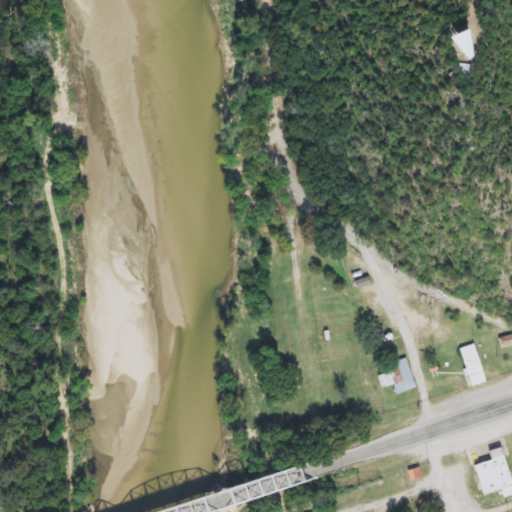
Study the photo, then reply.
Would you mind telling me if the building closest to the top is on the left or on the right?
right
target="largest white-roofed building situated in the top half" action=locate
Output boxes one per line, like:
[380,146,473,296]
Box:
[452,28,476,58]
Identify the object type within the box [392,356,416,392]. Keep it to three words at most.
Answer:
house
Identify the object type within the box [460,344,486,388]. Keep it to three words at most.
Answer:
house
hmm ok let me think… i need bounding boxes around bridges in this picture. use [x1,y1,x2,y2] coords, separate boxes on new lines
[162,460,328,512]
